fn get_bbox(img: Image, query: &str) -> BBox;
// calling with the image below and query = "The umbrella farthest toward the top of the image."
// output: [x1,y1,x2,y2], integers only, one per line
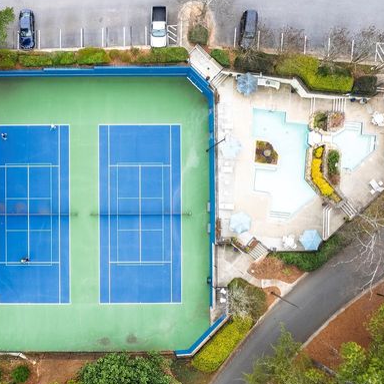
[235,73,258,95]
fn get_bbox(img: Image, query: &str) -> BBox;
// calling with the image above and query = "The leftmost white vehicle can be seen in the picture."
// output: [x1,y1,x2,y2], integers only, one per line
[150,6,168,49]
